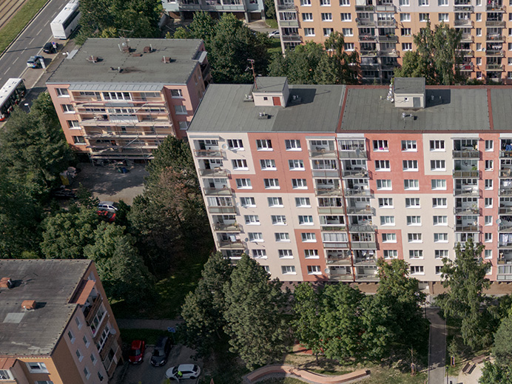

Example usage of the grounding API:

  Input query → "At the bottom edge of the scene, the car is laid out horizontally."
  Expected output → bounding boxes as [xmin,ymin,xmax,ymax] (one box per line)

[161,363,201,382]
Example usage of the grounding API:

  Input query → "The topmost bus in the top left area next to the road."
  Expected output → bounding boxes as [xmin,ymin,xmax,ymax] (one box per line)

[54,5,82,35]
